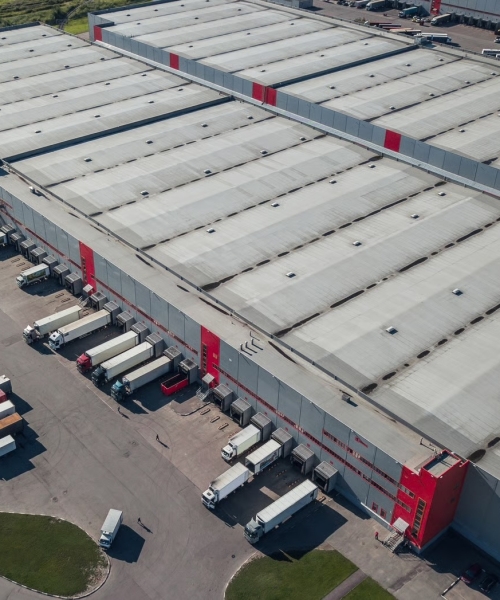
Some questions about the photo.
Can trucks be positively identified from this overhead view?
Yes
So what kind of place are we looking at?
industrial area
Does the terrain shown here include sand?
No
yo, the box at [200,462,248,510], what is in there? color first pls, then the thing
white truck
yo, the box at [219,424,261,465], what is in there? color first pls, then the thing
white truck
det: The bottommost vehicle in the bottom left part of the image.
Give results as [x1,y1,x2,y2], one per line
[94,506,123,550]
